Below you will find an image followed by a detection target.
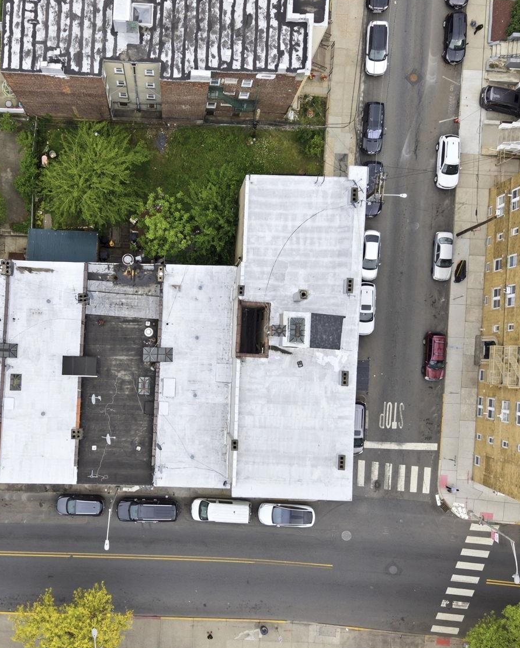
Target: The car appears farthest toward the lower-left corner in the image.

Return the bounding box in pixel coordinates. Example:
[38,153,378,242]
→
[56,492,105,518]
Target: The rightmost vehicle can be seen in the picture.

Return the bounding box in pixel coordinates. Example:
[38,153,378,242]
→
[478,85,520,117]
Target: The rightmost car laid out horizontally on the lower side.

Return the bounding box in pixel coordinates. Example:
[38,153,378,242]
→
[258,501,317,529]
